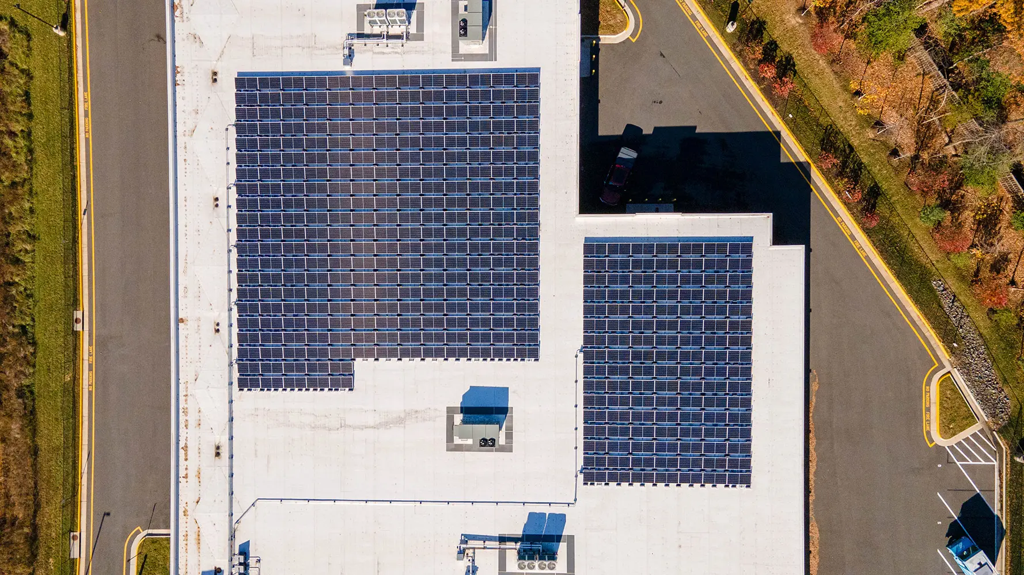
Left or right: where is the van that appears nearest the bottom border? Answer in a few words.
right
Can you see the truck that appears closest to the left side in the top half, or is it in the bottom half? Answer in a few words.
top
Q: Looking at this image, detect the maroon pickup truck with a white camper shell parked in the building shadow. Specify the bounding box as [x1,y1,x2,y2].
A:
[599,145,640,207]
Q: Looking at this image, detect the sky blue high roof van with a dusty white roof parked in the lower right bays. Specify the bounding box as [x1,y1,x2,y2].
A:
[943,530,998,575]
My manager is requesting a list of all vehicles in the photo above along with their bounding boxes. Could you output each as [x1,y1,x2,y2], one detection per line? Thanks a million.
[943,530,998,575]
[599,145,640,207]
